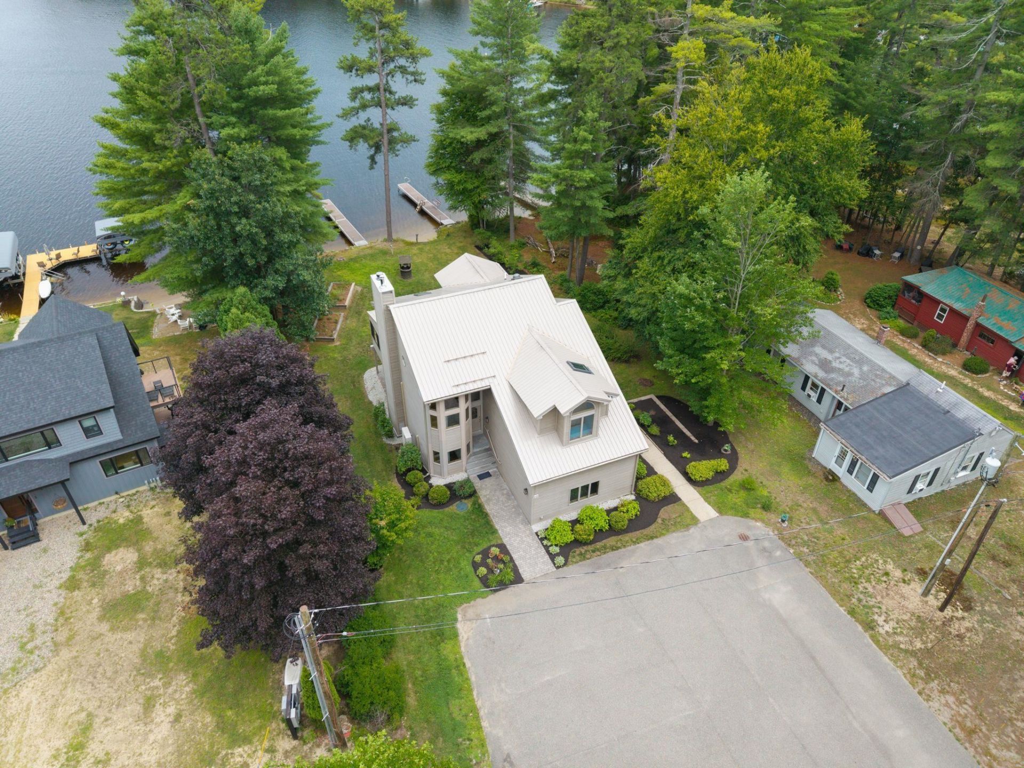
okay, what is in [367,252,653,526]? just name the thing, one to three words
house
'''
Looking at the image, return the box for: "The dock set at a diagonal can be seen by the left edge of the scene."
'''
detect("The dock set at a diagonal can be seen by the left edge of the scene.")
[15,239,100,319]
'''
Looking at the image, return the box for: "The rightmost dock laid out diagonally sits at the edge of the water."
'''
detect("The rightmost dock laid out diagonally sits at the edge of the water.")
[397,179,455,225]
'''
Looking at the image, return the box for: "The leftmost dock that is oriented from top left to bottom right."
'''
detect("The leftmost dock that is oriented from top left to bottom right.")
[319,195,368,245]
